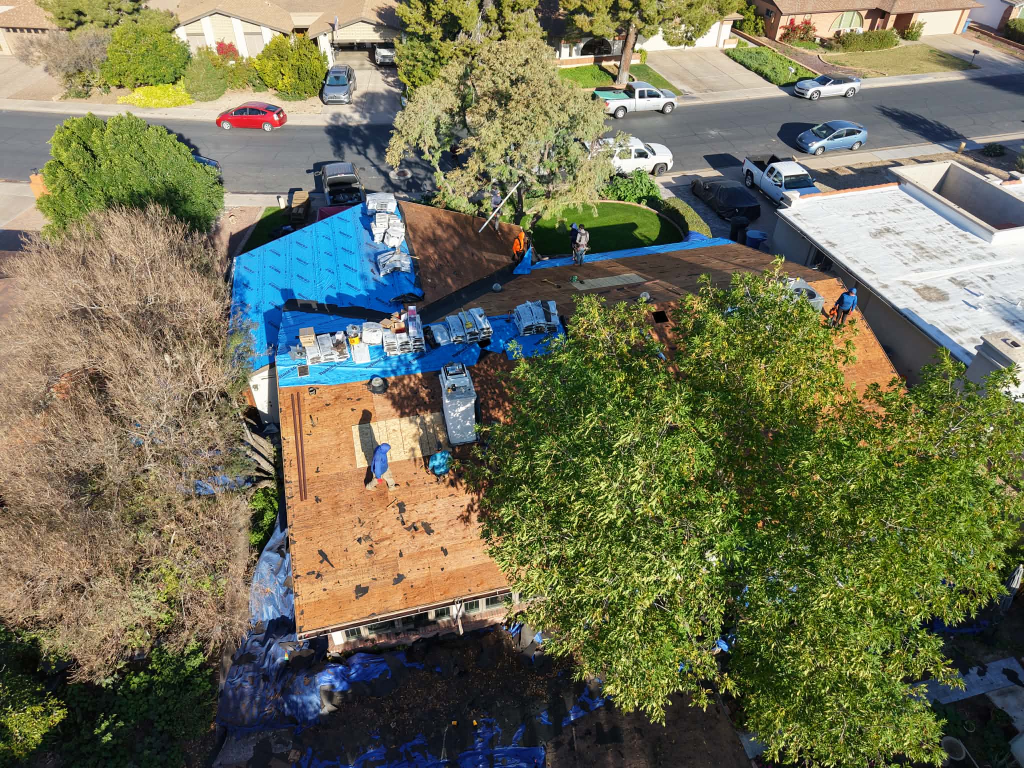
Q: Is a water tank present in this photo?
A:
No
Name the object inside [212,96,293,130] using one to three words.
car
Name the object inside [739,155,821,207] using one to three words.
truck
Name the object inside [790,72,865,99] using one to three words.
car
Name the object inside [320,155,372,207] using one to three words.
truck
